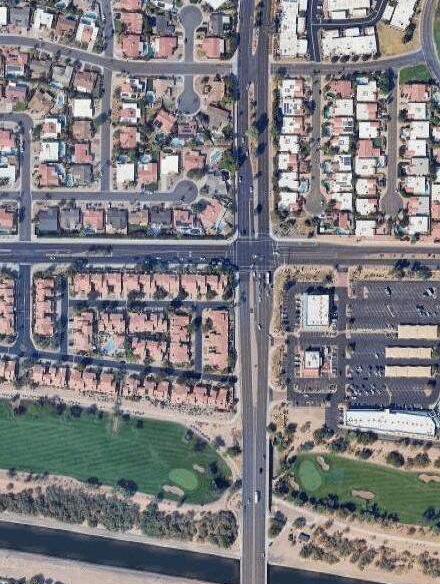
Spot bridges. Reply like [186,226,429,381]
[241,391,268,584]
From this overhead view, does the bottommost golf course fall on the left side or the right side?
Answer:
right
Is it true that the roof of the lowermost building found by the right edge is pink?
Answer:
No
